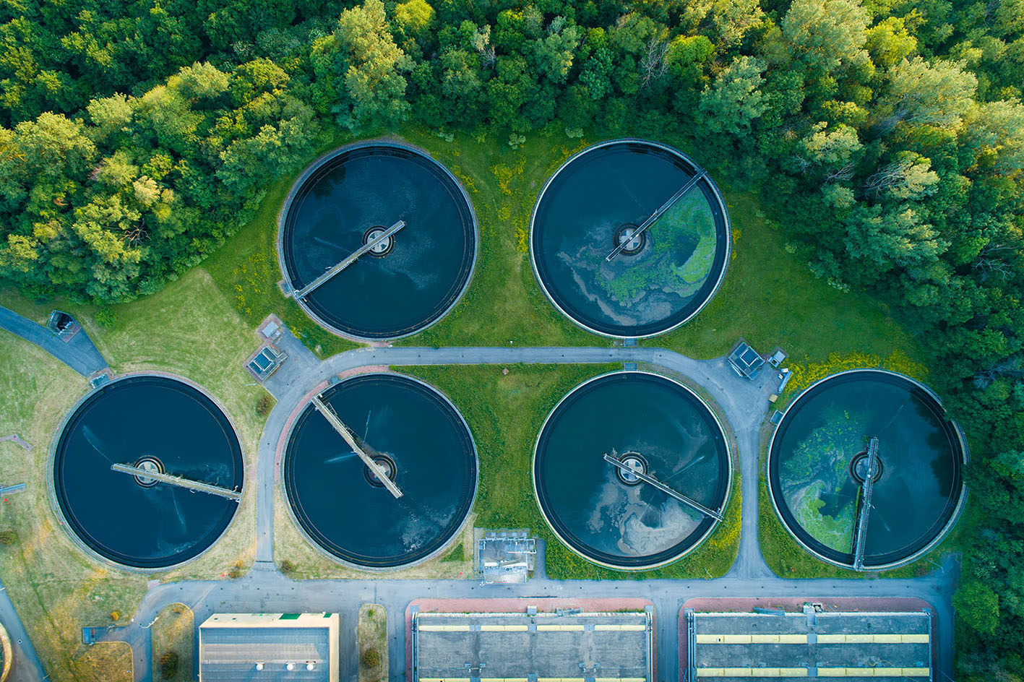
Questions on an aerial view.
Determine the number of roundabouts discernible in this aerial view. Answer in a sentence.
The picture shows no roundabouts.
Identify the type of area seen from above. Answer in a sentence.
The picture captures an industrial area.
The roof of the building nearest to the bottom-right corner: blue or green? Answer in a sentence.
From above, the roof of the building nearest to the bottom-right corner appears blue.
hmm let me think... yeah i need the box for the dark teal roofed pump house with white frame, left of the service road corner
[245,344,291,381]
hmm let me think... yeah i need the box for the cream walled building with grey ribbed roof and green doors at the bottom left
[199,612,339,682]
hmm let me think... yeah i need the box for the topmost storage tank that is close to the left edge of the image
[46,372,249,572]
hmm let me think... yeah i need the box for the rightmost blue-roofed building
[725,342,769,381]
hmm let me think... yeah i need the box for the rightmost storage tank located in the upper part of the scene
[529,136,733,340]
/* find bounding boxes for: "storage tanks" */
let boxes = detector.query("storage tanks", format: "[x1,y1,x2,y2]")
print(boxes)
[765,368,972,572]
[529,136,733,340]
[277,139,479,340]
[532,370,735,573]
[281,373,480,572]
[46,372,249,572]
